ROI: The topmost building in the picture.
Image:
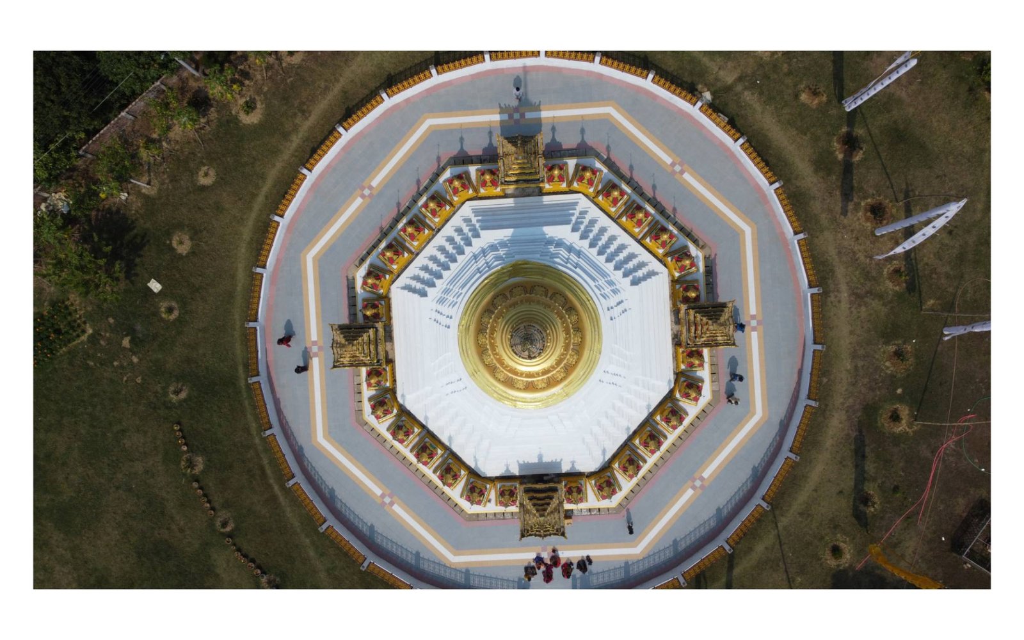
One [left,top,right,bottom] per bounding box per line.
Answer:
[493,130,547,191]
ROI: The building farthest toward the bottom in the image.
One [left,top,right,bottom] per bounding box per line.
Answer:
[514,482,569,541]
